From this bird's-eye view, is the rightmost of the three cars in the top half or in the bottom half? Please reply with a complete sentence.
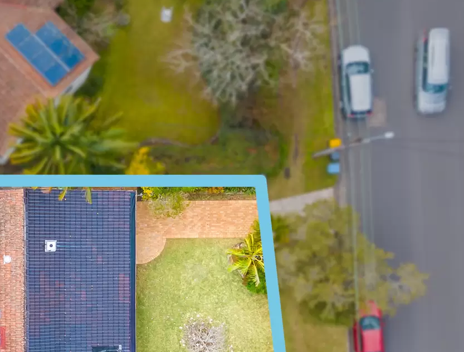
Seen from above, the rightmost of the three cars lies in the top half of the view.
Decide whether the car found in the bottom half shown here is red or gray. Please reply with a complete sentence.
The color of the car found in the bottom half is red.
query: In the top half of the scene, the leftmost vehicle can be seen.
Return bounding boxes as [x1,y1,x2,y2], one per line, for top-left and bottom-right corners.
[339,46,376,117]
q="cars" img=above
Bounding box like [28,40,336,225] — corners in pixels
[352,305,387,352]
[339,46,376,117]
[413,30,453,113]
